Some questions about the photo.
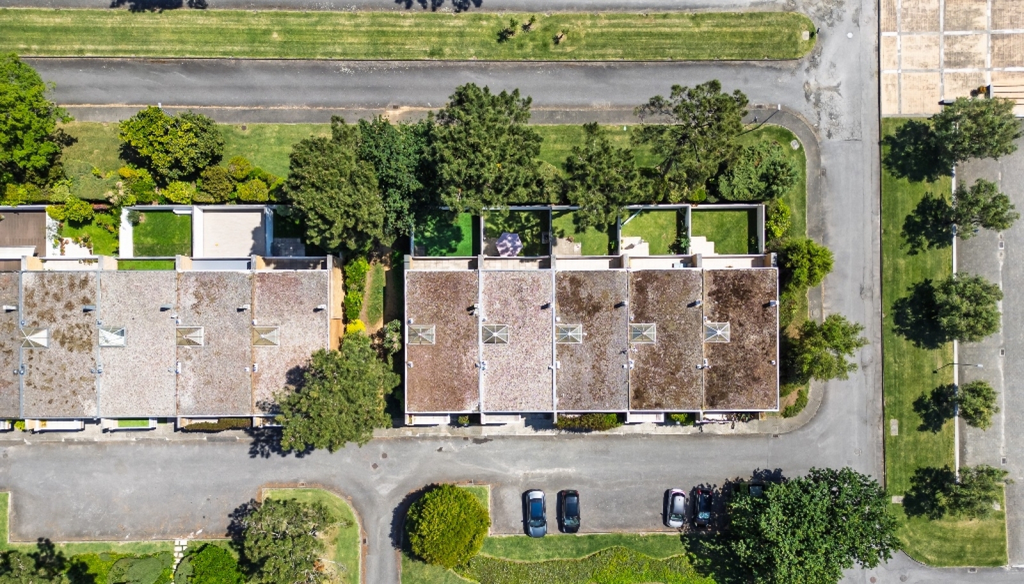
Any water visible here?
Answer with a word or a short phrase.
No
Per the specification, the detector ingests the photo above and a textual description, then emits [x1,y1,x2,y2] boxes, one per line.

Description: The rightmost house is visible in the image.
[694,256,780,422]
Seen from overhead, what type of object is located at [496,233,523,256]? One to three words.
umbrella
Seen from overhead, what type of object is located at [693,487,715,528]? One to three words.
car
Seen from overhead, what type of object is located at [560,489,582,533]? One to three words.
car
